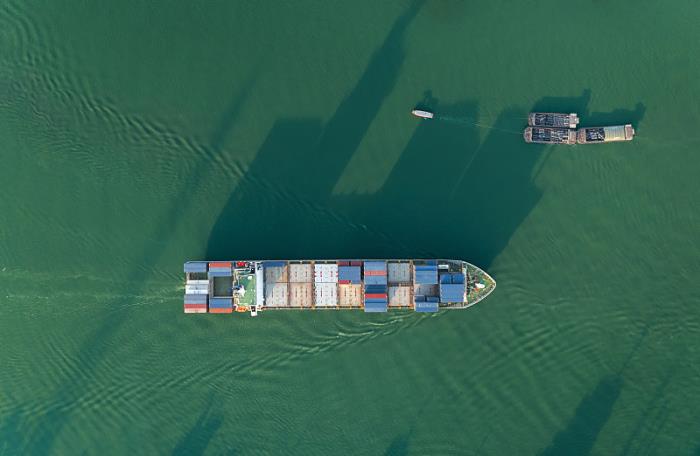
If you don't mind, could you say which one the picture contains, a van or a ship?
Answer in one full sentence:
The image shows a ship.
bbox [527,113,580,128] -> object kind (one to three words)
ship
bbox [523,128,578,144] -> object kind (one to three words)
ship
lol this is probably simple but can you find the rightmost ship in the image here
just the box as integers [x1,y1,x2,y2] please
[578,125,635,145]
